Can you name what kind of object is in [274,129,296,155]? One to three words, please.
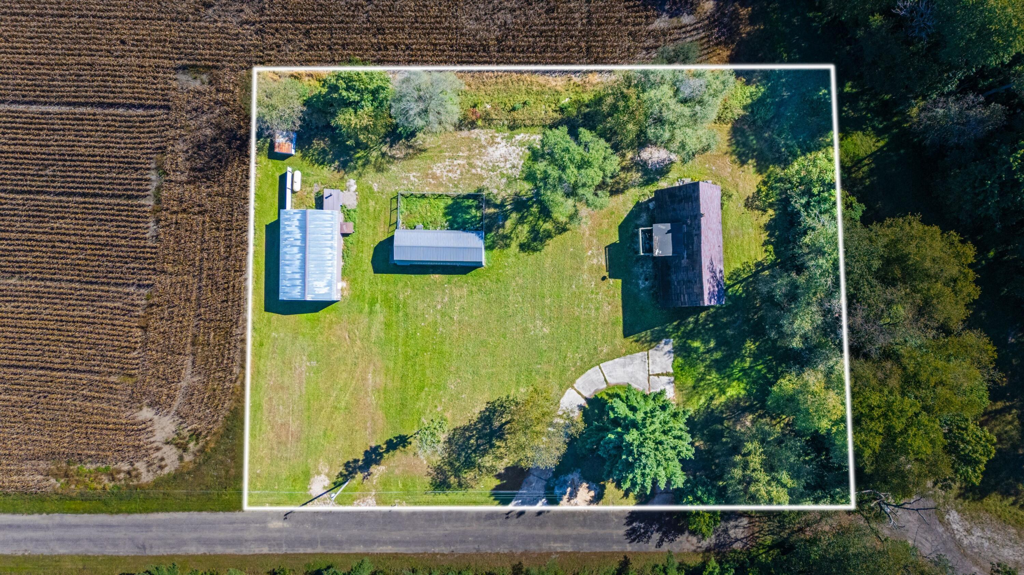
shed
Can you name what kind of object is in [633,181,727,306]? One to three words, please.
house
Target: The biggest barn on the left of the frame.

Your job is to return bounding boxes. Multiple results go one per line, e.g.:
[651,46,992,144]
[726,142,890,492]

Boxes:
[279,208,341,300]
